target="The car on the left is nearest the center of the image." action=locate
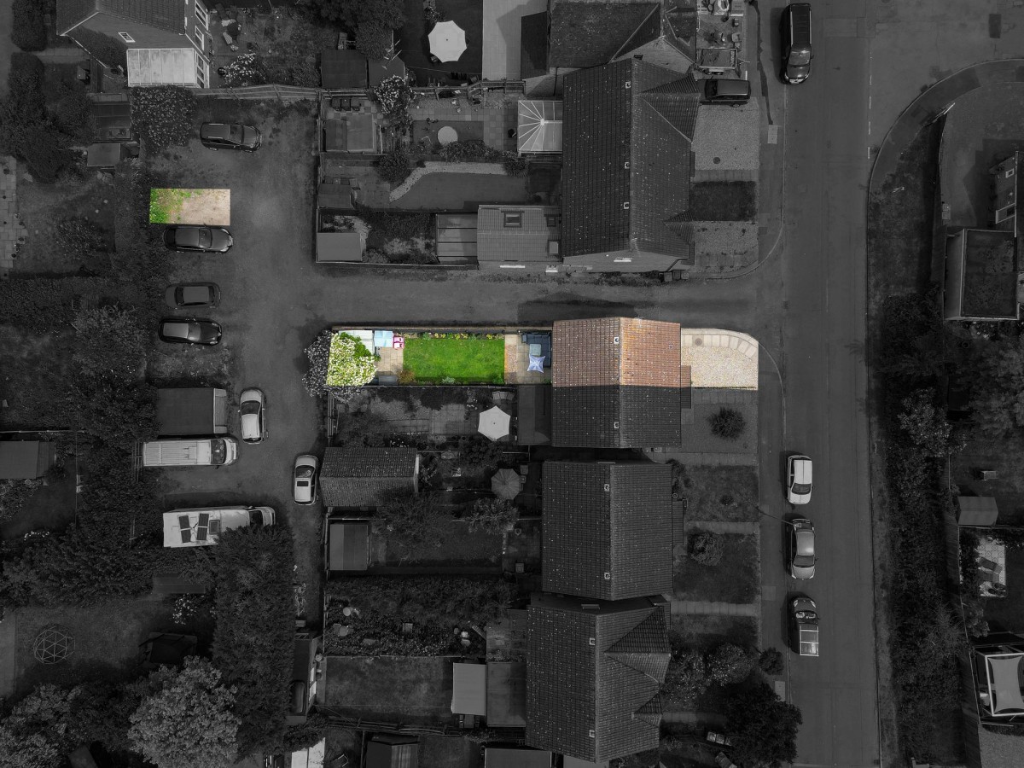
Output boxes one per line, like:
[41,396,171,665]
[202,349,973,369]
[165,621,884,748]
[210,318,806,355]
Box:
[291,454,319,504]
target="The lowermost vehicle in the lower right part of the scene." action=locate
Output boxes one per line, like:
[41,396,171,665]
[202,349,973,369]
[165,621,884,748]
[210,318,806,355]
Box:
[787,594,819,657]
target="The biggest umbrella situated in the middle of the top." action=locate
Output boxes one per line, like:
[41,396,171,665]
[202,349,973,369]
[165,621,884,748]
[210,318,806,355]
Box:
[429,25,467,63]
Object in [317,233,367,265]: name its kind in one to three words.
shed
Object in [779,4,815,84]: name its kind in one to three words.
van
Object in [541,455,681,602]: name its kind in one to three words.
house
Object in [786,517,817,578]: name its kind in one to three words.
car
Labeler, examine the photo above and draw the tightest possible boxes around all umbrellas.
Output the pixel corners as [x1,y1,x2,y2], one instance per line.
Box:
[491,468,521,499]
[527,354,545,372]
[478,404,511,440]
[429,25,467,63]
